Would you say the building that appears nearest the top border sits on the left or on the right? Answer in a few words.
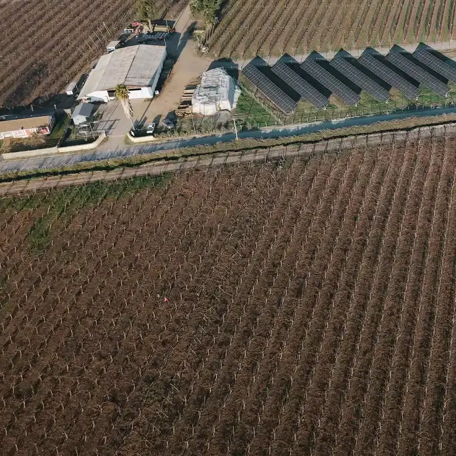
left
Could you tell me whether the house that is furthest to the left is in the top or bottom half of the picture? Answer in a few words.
top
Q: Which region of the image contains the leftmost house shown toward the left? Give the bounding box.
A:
[0,110,56,139]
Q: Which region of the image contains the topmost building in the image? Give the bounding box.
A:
[67,39,166,104]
